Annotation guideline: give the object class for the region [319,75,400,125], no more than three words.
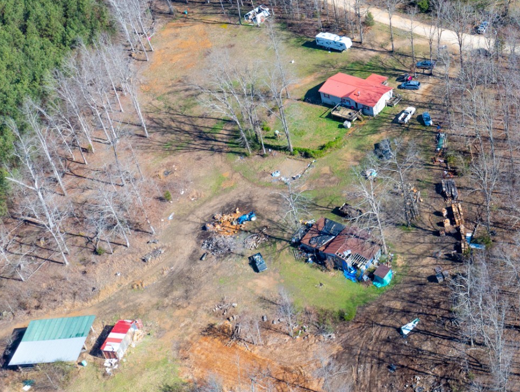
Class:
house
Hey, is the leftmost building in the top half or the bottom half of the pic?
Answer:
bottom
